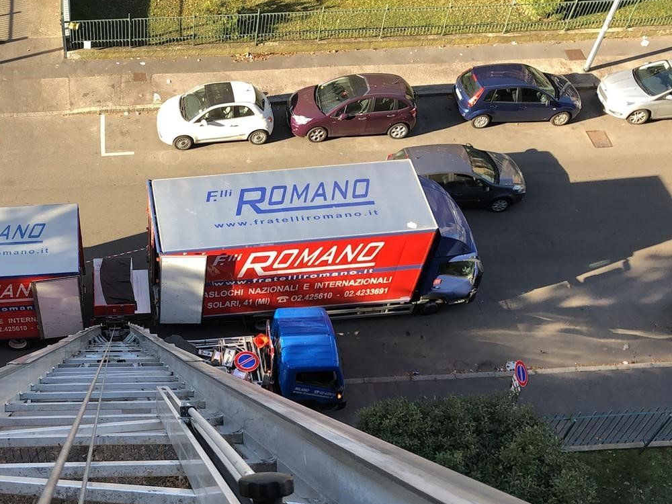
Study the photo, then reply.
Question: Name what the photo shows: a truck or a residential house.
truck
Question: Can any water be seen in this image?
No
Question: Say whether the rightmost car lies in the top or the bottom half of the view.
top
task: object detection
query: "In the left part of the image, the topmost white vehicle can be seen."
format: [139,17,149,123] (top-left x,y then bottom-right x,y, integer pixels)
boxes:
[155,80,276,150]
